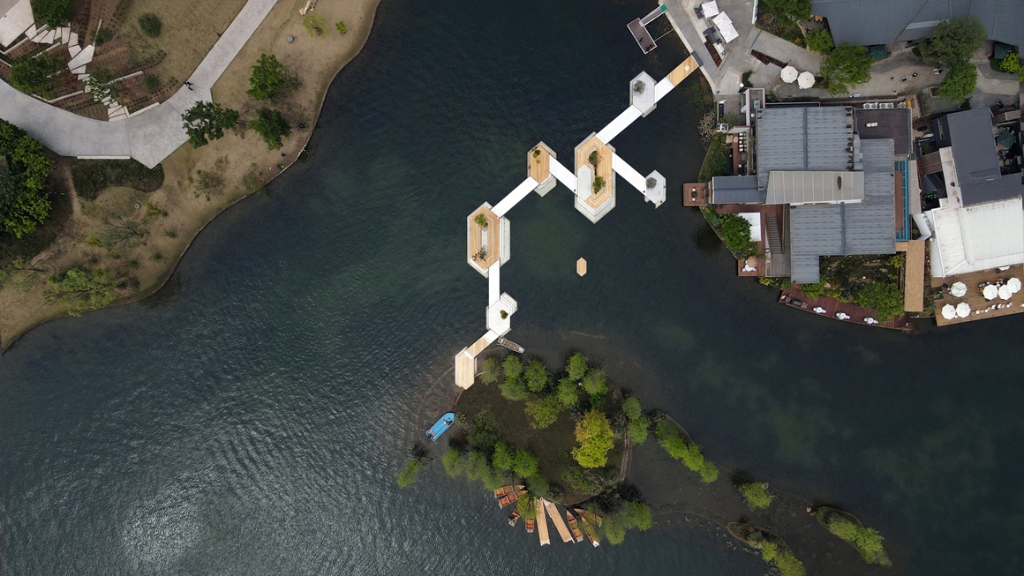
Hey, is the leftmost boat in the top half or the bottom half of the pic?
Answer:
bottom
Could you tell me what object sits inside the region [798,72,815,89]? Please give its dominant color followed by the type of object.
white umbrella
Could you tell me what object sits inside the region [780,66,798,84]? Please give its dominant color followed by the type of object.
white umbrella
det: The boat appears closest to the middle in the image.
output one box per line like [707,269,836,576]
[498,337,524,351]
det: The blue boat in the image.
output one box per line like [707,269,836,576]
[427,413,456,441]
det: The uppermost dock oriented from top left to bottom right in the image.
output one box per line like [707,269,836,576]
[626,17,658,55]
